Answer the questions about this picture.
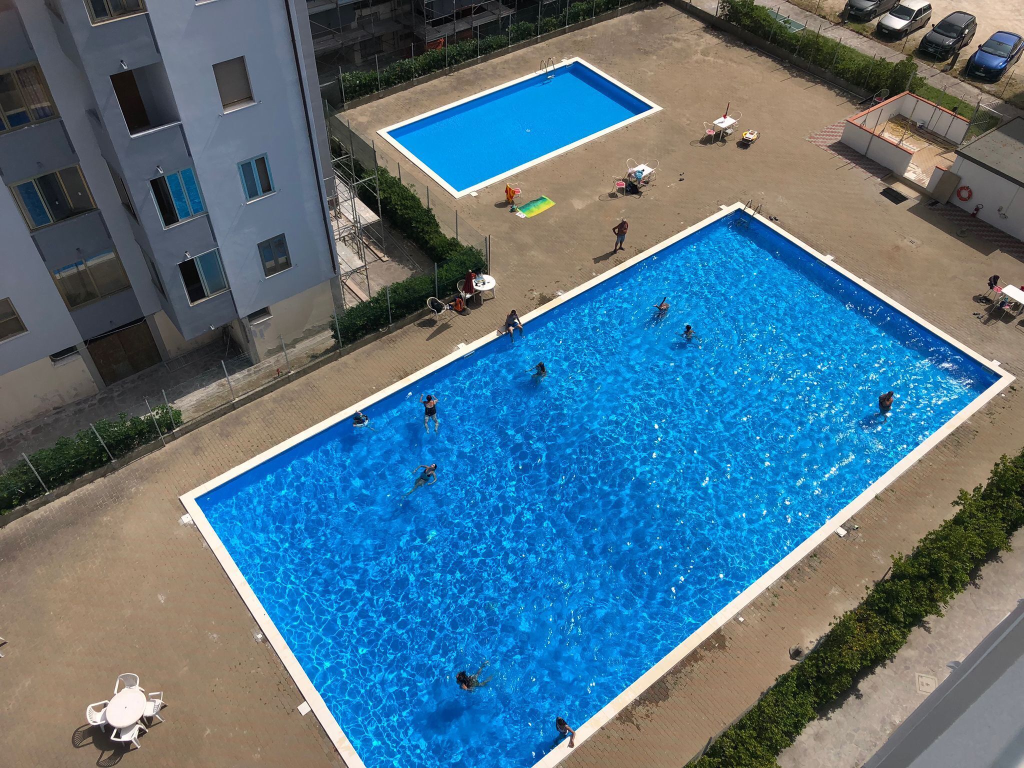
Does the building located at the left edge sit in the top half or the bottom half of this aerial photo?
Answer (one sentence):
It is in the top half that the building located at the left edge appears.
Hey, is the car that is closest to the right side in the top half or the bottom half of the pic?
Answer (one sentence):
The top half of the photo is where the car that is closest to the right side is.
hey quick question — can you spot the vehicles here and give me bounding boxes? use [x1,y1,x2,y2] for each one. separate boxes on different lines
[921,8,988,63]
[880,0,936,40]
[843,0,898,23]
[969,32,1024,83]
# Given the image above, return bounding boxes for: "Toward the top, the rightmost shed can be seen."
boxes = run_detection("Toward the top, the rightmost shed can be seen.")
[943,109,1024,242]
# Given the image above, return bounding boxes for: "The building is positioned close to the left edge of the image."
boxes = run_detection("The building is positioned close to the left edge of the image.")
[0,0,341,435]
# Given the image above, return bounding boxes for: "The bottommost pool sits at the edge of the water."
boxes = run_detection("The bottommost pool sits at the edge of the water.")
[178,202,1015,768]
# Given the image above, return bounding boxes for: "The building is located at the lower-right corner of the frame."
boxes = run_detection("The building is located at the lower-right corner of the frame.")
[862,580,1024,768]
